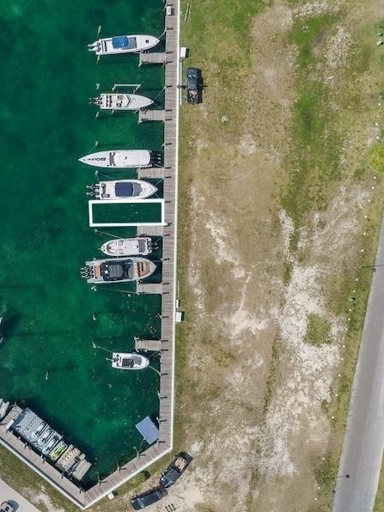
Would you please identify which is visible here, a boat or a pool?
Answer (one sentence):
This aerial view contains a boat.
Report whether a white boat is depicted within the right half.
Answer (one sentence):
No, the scene shows no white boat within the right half.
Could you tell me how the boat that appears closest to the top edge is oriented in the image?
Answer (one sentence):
In this picture, the boat that appears closest to the top edge is oriented from side to side.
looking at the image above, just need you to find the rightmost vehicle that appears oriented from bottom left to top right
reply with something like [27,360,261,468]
[159,452,191,488]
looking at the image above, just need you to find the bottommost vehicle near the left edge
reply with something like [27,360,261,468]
[0,499,15,512]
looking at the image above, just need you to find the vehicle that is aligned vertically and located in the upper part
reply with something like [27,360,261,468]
[184,68,201,105]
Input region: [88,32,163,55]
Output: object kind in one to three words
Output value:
boat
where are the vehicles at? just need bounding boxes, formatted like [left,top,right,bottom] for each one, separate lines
[0,499,15,512]
[184,68,201,105]
[159,452,191,488]
[132,485,169,511]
